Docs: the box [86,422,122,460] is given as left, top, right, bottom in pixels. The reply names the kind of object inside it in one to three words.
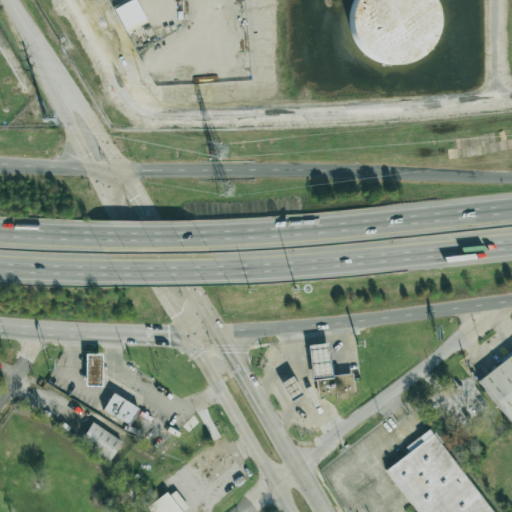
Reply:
building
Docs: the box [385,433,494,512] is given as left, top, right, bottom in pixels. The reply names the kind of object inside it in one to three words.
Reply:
building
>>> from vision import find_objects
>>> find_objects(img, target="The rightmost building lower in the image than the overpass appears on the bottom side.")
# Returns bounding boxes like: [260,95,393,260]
[477,353,512,422]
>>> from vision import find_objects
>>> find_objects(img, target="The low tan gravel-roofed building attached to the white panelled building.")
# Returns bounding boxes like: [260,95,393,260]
[316,374,356,396]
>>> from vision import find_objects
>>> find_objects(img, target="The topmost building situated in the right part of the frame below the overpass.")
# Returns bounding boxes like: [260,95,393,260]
[309,343,334,380]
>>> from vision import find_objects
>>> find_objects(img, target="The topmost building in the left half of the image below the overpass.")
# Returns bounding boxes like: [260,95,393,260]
[86,354,104,386]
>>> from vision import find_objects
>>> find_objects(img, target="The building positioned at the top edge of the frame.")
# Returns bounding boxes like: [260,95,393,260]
[116,0,147,32]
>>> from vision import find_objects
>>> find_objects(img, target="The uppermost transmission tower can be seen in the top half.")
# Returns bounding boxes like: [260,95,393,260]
[210,142,228,166]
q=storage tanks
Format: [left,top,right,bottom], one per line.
[349,0,443,66]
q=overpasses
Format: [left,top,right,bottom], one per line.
[0,192,512,286]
